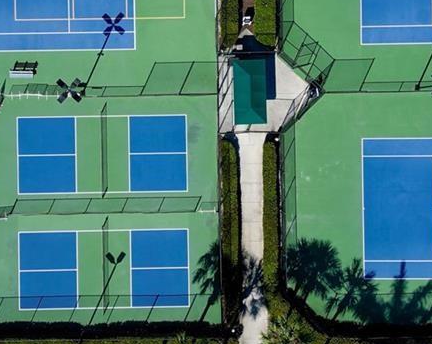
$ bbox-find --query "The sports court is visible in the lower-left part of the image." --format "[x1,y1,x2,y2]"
[19,229,190,310]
